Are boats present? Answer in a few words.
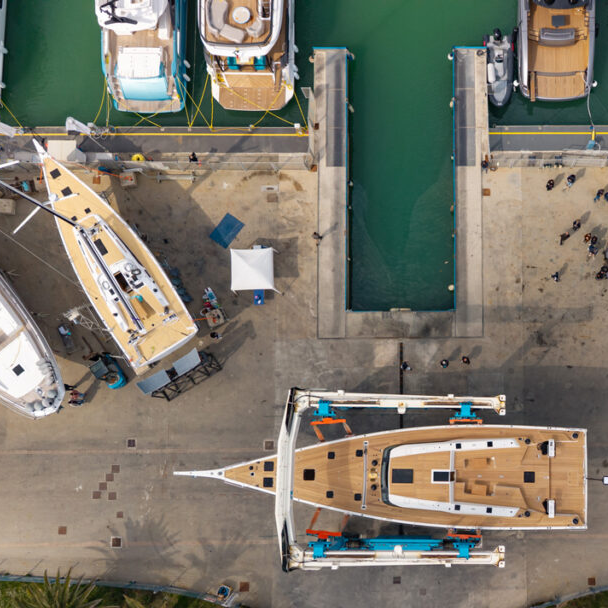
Yes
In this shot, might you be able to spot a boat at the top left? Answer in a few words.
Yes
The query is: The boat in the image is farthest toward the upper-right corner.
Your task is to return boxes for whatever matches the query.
[517,0,596,102]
